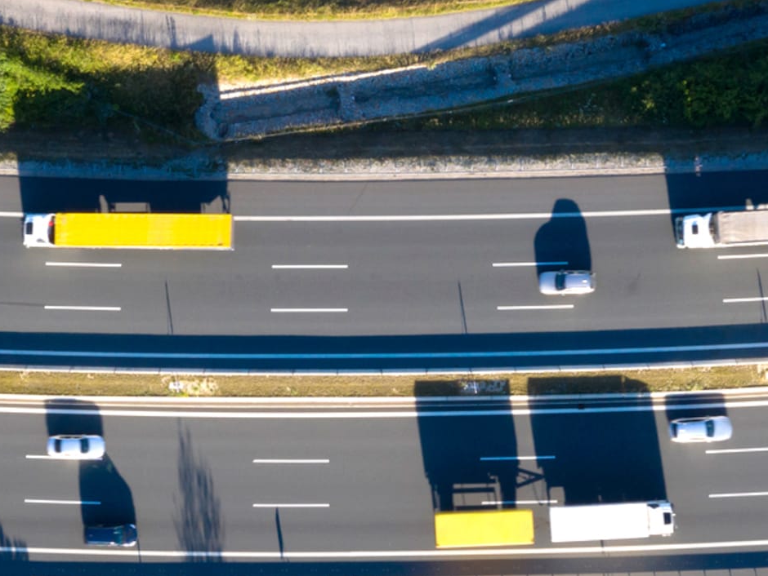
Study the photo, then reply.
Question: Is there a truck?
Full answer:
Yes, there's a truck down there.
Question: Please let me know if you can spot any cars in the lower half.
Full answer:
Yes, I can see a car in the lower half.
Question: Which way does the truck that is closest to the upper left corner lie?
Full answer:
Seen from above, the truck that is closest to the upper left corner lies from side to side.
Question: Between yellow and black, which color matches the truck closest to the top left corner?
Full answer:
The truck closest to the top left corner is yellow.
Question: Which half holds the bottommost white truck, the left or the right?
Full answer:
The bottommost white truck is on the right side of the image.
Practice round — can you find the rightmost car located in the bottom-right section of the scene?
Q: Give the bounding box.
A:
[672,415,733,442]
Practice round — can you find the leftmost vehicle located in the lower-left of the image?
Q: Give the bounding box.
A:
[48,434,106,461]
